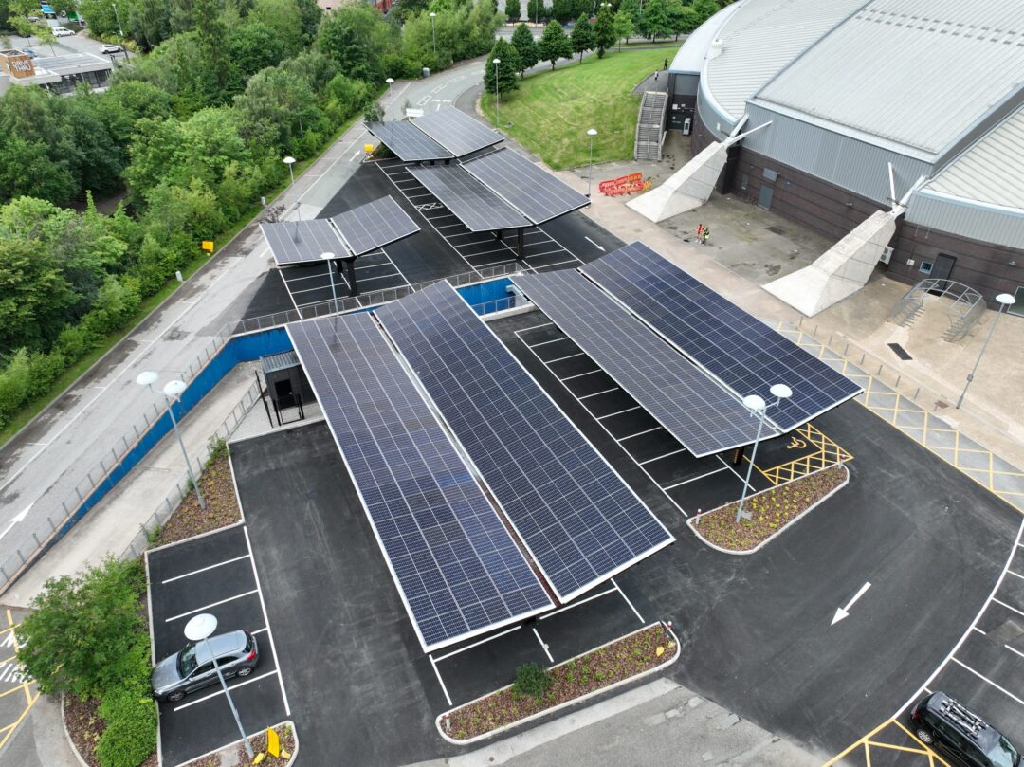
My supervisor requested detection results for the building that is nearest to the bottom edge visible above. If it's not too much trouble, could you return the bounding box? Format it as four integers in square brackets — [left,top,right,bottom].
[254,347,317,411]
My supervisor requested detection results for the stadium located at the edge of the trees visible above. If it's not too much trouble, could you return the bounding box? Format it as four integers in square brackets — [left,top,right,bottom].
[665,0,1024,317]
